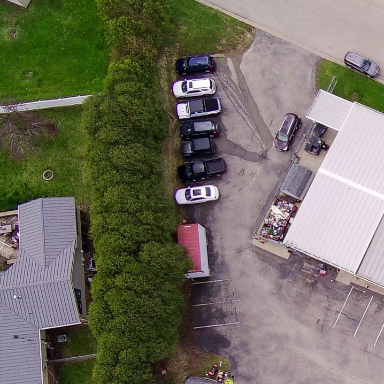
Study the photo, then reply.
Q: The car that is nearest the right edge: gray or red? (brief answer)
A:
gray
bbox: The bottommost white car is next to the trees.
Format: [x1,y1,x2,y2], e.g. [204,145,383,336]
[175,186,220,204]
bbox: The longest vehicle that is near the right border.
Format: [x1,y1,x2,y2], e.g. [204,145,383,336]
[342,49,382,78]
